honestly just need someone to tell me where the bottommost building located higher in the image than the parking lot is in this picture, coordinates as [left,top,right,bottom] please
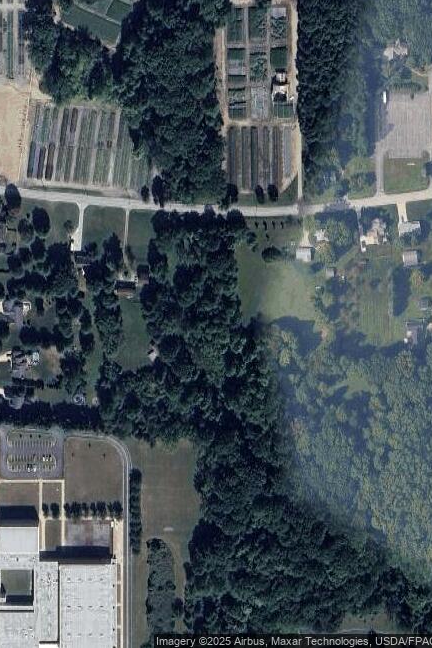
[5,387,23,408]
